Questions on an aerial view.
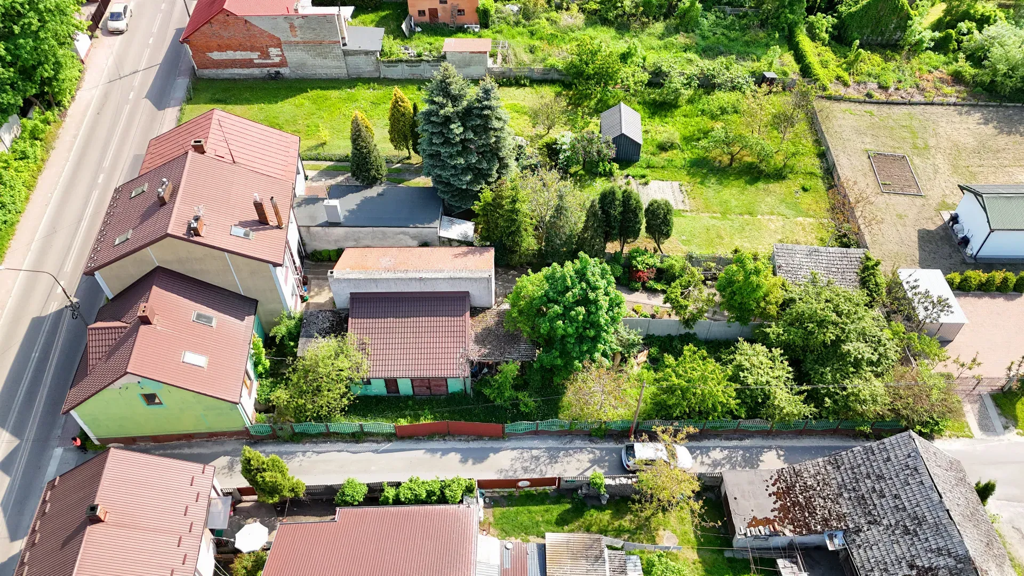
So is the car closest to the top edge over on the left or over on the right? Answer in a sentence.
You can find the car closest to the top edge on the left side of the picture.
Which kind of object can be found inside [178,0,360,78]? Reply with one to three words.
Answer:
house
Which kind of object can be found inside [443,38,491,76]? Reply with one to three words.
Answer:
shed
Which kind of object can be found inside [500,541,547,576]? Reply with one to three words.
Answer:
shed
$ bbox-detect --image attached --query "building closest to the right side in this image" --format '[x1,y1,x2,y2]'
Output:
[949,181,1024,260]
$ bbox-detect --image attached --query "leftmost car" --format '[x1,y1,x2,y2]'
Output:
[104,8,128,32]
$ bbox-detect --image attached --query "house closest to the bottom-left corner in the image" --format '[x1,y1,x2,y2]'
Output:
[13,446,224,576]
